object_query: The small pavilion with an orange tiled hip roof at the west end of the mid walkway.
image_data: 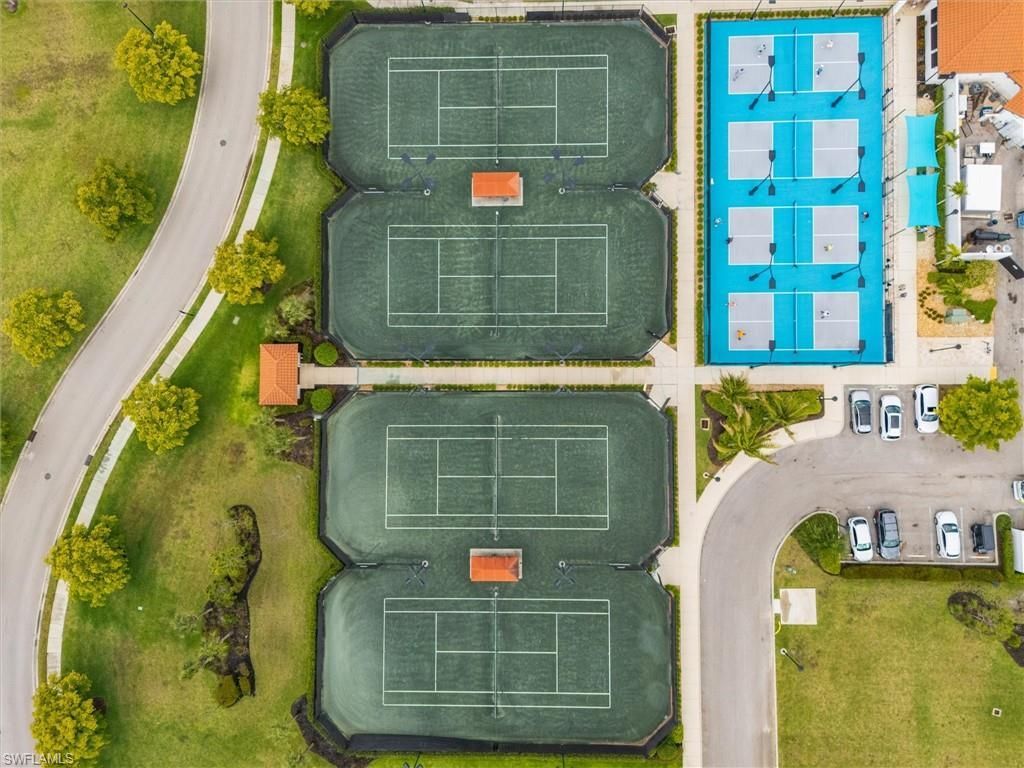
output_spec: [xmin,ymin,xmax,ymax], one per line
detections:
[258,344,305,406]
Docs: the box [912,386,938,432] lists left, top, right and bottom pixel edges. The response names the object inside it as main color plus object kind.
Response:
white car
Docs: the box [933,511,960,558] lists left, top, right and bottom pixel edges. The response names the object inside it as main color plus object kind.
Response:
white car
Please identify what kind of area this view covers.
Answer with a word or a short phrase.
sports ground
